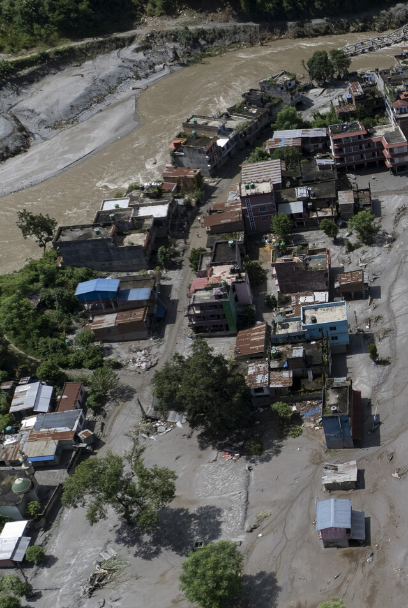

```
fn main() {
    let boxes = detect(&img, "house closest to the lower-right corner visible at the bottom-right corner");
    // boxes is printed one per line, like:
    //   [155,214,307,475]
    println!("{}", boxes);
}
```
[316,495,365,549]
